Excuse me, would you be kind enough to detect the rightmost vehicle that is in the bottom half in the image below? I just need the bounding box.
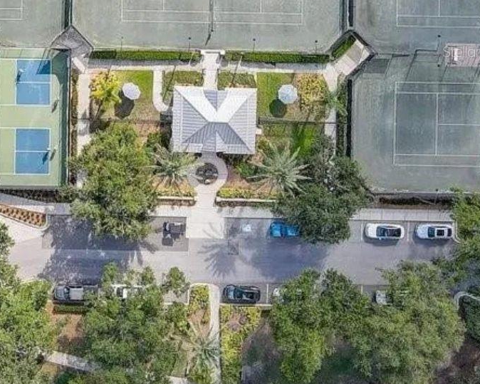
[418,224,455,242]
